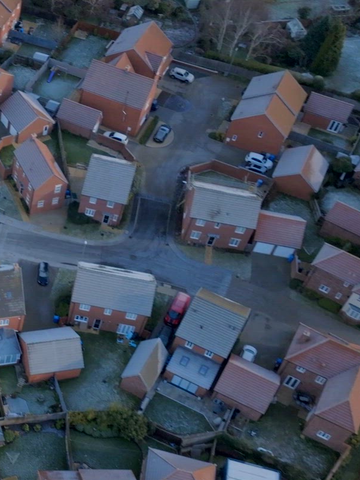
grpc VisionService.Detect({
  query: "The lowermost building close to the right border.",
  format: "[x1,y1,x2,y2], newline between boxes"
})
[277,322,360,452]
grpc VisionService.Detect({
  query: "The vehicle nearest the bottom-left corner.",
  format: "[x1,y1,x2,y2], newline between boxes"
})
[37,264,50,285]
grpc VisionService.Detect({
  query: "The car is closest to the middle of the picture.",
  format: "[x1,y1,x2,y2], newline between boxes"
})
[170,296,193,322]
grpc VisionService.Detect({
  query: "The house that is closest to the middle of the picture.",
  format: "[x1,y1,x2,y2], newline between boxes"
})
[183,182,261,250]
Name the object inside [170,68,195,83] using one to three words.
car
